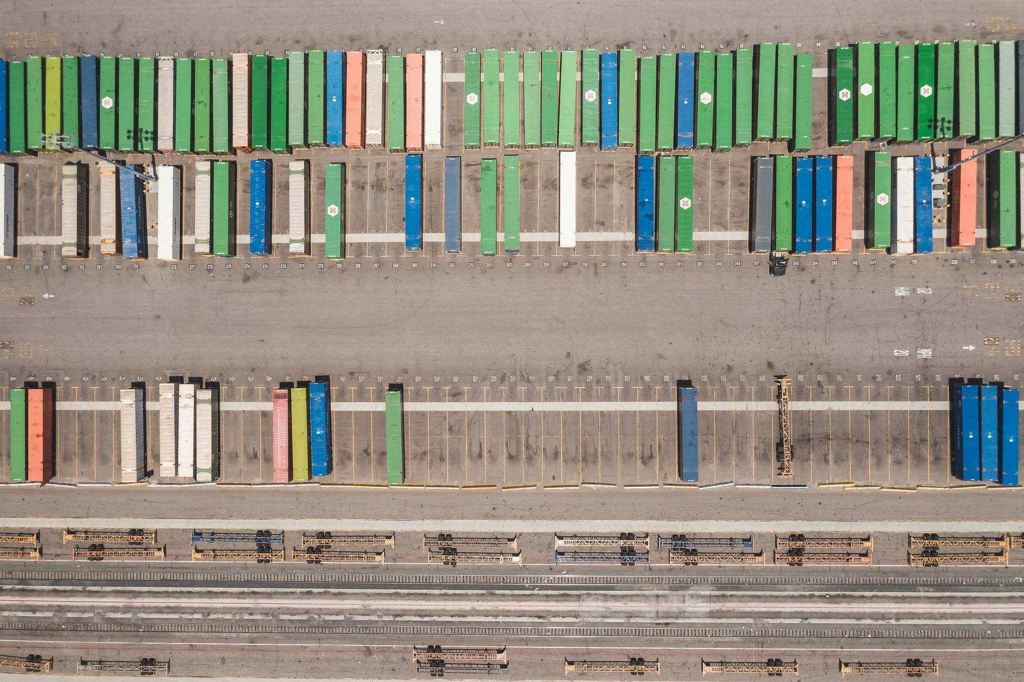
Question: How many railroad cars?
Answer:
zero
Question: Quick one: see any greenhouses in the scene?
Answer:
No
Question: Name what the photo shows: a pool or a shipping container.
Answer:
shipping container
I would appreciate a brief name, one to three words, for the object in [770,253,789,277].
vehicle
